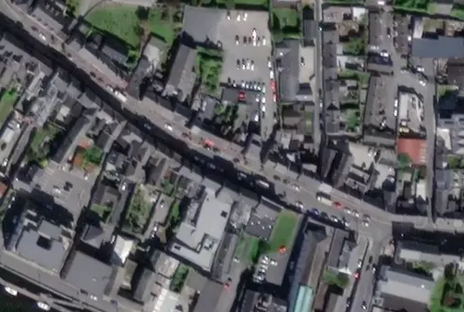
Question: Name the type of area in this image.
residential area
